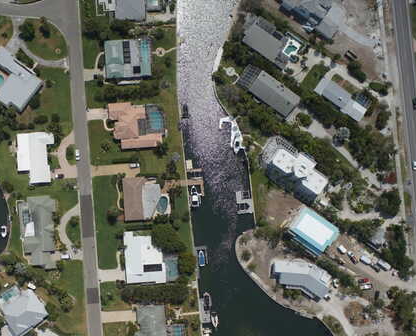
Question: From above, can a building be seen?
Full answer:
Yes, there is a building in the image.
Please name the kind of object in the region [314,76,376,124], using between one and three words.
house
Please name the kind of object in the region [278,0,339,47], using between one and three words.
house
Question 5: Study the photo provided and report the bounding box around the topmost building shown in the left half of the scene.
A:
[115,0,163,21]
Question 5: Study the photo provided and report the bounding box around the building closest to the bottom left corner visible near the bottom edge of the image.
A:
[0,285,47,336]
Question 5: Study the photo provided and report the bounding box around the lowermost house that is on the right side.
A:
[272,261,332,301]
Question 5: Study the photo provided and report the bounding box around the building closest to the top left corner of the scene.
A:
[0,47,39,114]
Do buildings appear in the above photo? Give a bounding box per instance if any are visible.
[272,261,332,301]
[108,103,165,151]
[0,285,47,336]
[314,76,376,124]
[15,132,54,184]
[105,37,152,77]
[369,230,389,249]
[278,0,339,47]
[287,207,340,255]
[134,304,186,336]
[18,196,54,271]
[236,64,300,116]
[115,0,163,21]
[0,47,39,114]
[124,232,179,283]
[264,136,329,200]
[123,177,159,222]
[242,10,292,69]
